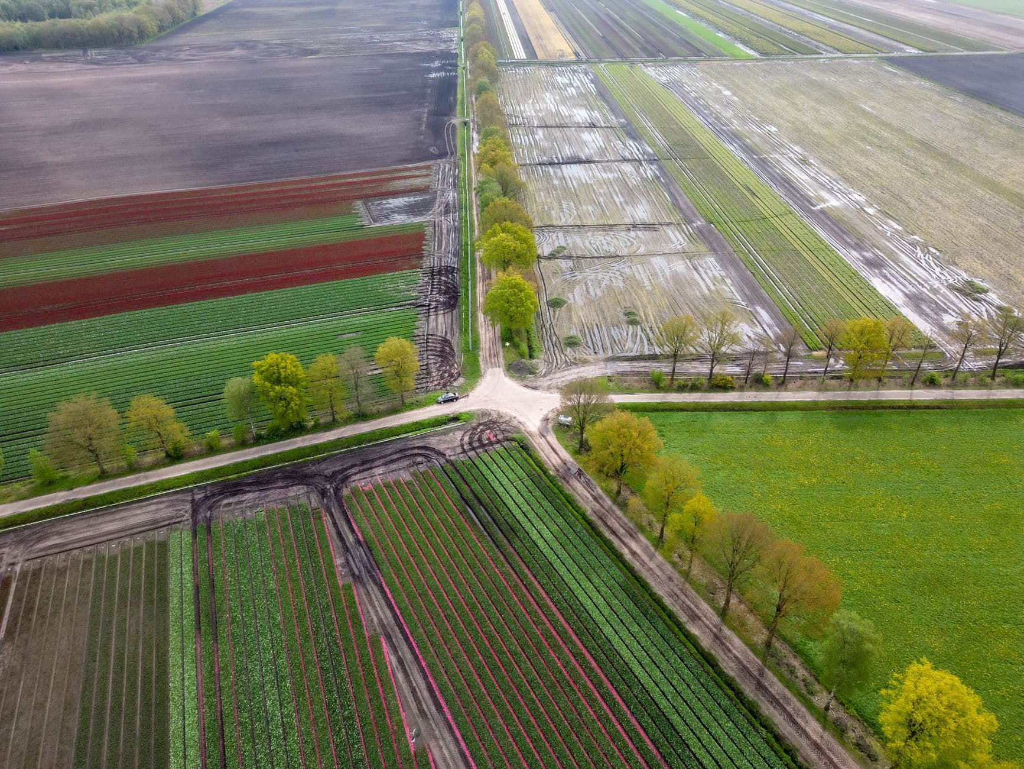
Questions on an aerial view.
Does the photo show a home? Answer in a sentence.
No, I find no home anywhere in the image.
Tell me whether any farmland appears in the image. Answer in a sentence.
Yes, farmland can be seen from above here.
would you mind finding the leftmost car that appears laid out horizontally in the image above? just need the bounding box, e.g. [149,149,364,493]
[435,393,460,405]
